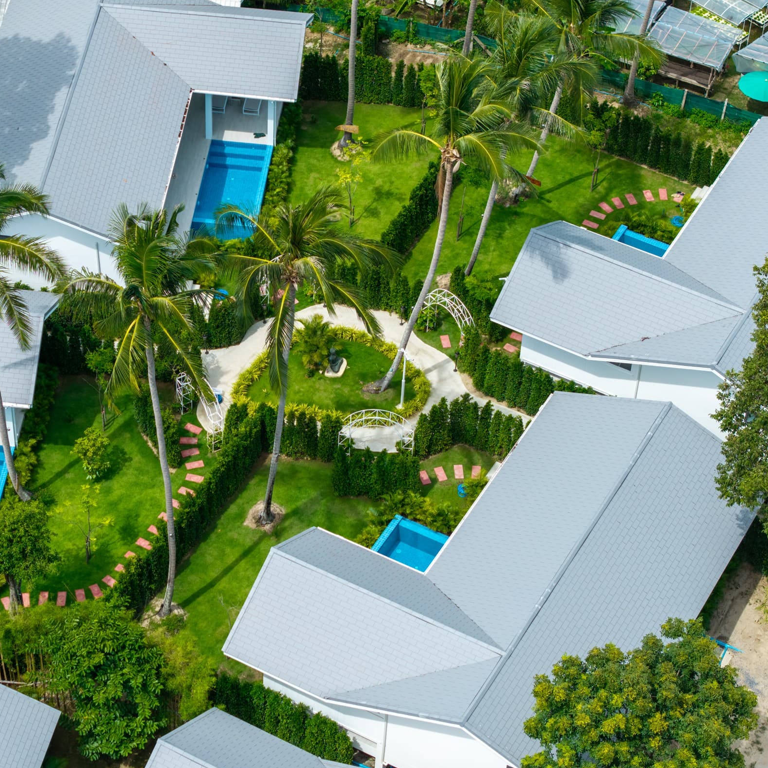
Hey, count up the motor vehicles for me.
zero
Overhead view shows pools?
Yes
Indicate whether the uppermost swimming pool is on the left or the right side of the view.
left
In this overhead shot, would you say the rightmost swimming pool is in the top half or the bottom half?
top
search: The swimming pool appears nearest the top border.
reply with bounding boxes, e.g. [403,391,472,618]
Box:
[192,143,265,223]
